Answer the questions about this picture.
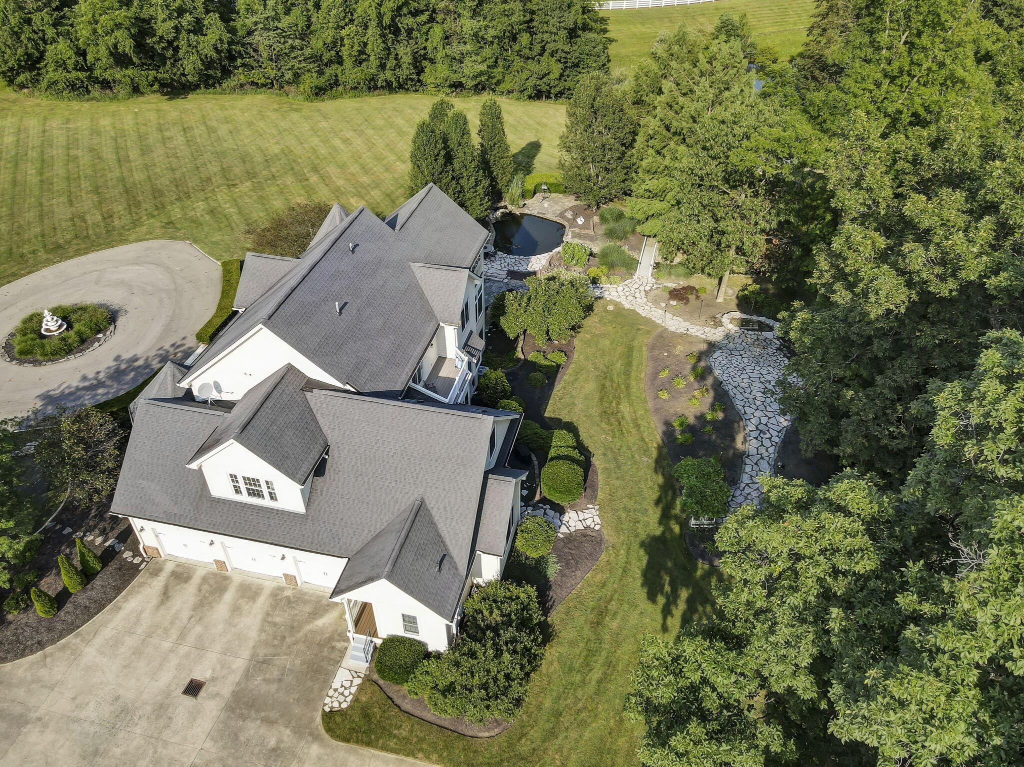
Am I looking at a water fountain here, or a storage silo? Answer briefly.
water fountain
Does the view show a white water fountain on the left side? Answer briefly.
Yes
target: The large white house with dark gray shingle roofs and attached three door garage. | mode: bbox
[108,183,528,664]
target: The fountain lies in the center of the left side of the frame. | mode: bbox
[36,307,66,337]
